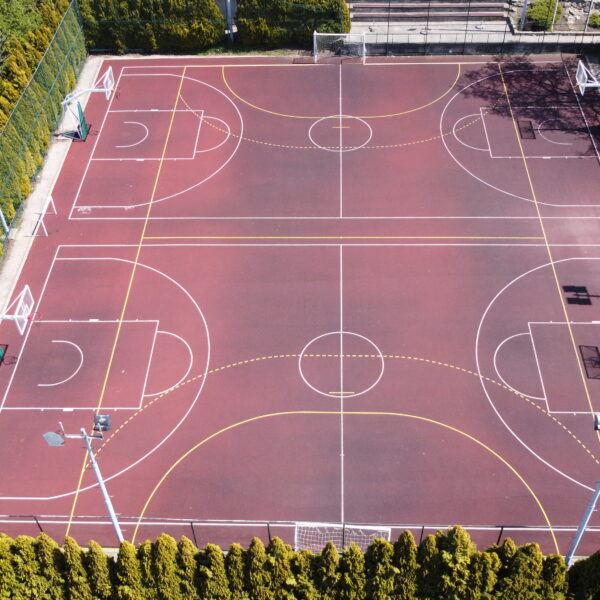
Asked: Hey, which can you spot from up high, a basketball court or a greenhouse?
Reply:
basketball court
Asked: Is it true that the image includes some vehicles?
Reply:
No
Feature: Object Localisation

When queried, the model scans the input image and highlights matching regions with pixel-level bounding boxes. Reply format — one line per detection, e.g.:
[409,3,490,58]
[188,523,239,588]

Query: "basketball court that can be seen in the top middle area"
[38,53,600,231]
